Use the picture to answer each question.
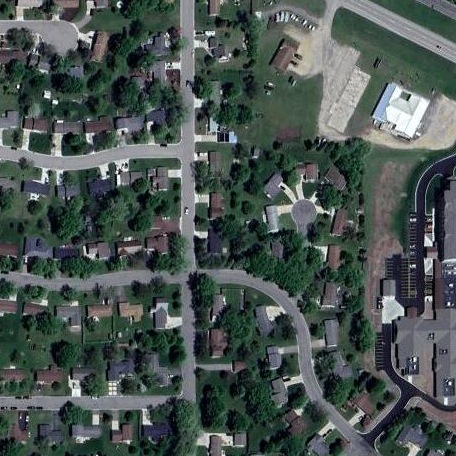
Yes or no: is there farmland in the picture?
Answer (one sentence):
No, there is no farmland in the image.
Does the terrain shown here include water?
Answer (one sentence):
No, the picture contains no water.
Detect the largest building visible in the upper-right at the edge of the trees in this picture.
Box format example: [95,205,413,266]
[372,83,431,138]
